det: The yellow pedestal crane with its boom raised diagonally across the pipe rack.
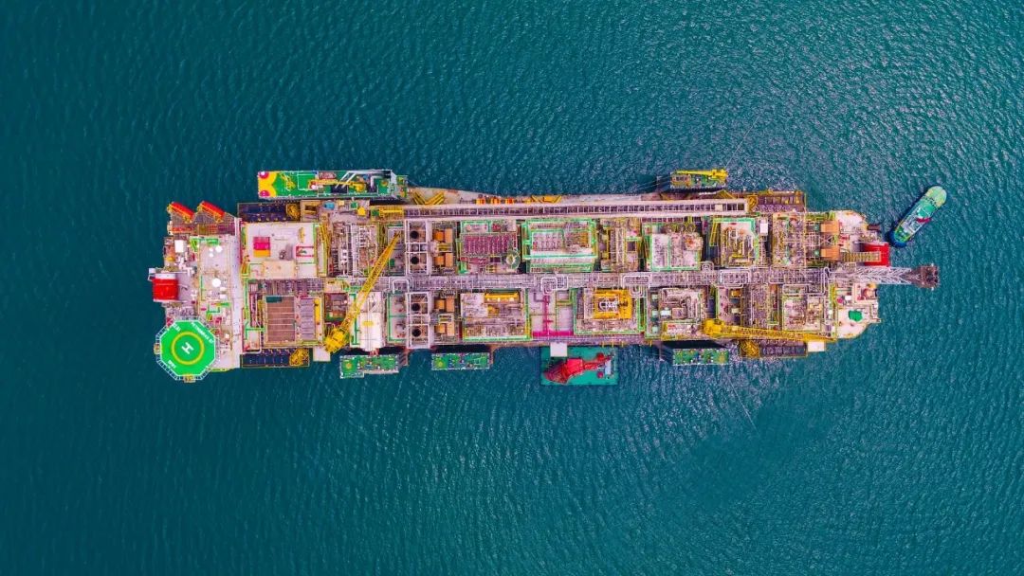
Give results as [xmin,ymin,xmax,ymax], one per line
[322,231,404,355]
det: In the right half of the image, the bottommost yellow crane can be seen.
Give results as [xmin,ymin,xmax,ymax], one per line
[703,312,839,343]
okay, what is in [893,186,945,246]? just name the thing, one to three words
boat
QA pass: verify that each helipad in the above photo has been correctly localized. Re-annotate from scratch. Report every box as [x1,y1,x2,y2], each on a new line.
[154,316,226,381]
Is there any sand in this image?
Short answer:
No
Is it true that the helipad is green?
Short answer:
Yes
